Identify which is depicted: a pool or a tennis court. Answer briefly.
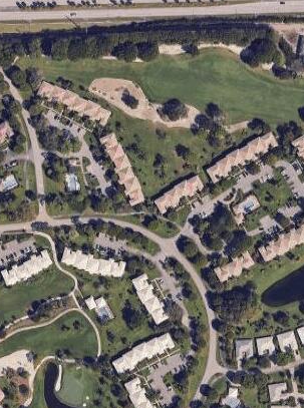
pool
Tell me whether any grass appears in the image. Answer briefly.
Yes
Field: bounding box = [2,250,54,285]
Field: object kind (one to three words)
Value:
building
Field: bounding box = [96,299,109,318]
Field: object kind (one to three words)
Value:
swimming pool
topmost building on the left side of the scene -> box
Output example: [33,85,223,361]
[36,80,111,125]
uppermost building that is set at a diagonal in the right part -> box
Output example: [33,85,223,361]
[208,131,278,181]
